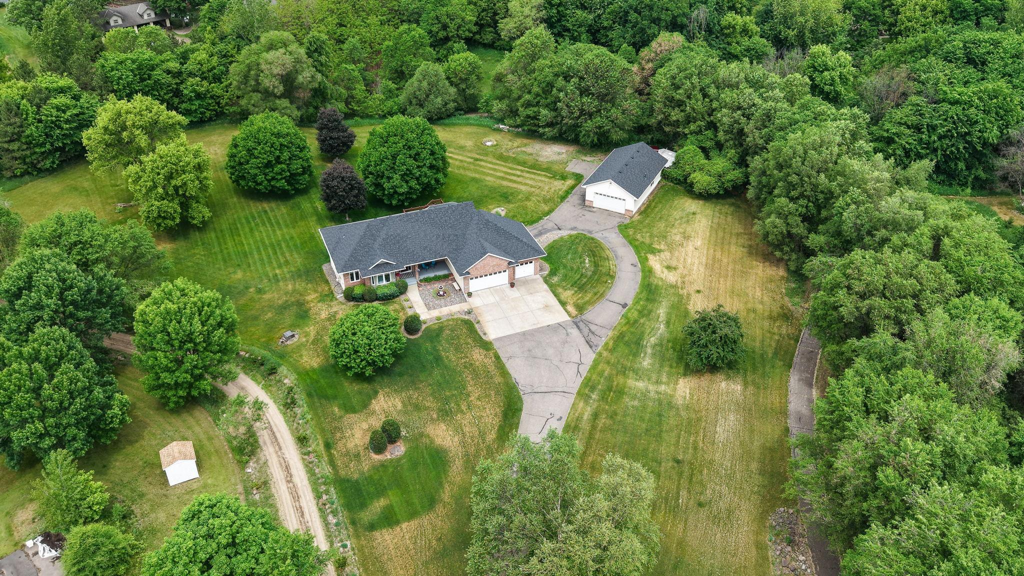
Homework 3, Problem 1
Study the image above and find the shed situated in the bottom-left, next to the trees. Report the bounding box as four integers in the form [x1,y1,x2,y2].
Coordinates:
[159,441,200,486]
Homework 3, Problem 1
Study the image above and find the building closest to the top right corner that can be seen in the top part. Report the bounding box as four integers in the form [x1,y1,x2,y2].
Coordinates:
[580,142,669,216]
